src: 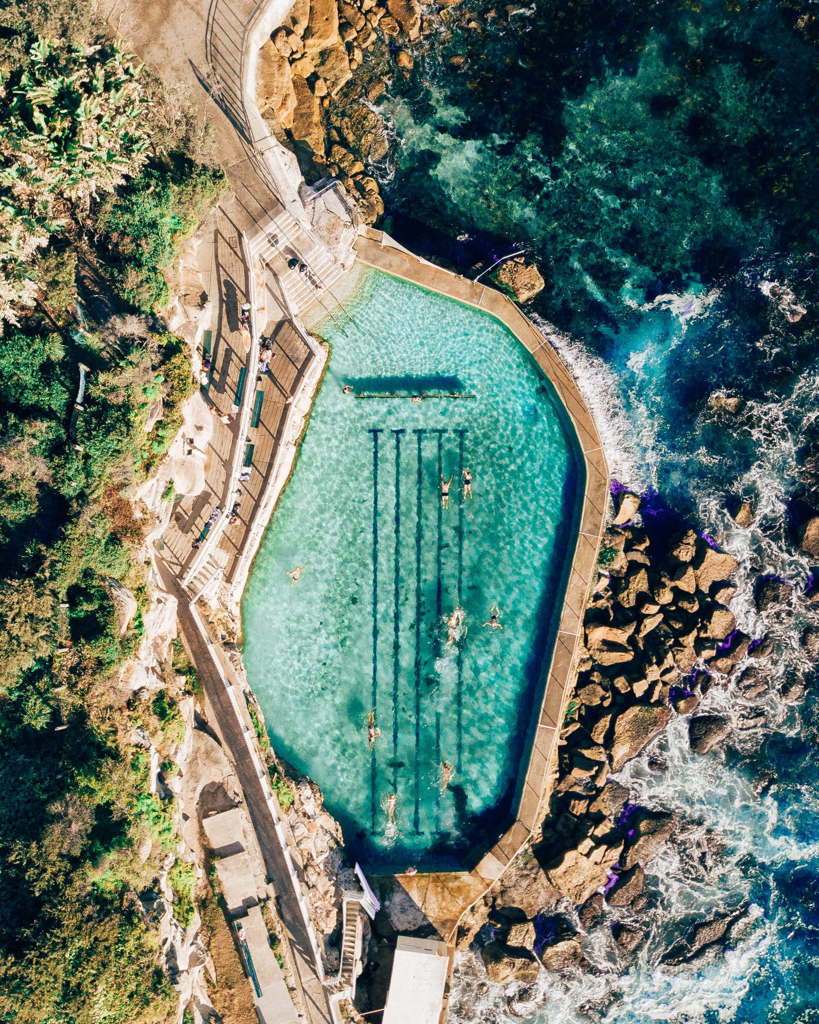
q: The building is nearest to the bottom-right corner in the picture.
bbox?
[382,926,449,1024]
